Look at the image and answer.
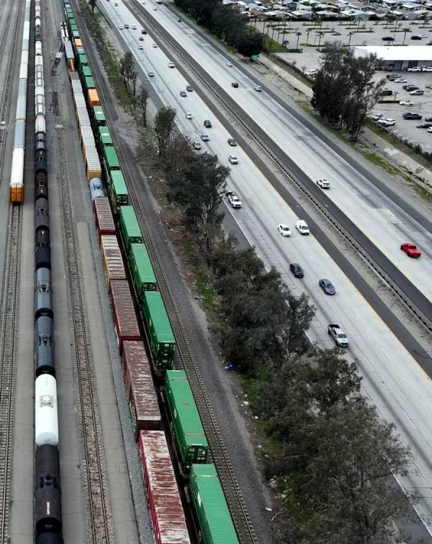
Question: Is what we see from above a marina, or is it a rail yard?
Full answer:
What you see here is a rail yard.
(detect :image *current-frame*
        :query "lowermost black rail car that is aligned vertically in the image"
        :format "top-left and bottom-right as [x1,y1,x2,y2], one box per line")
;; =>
[35,448,62,544]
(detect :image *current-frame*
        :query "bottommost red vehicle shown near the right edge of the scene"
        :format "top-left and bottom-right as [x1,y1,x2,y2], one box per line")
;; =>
[400,242,423,258]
